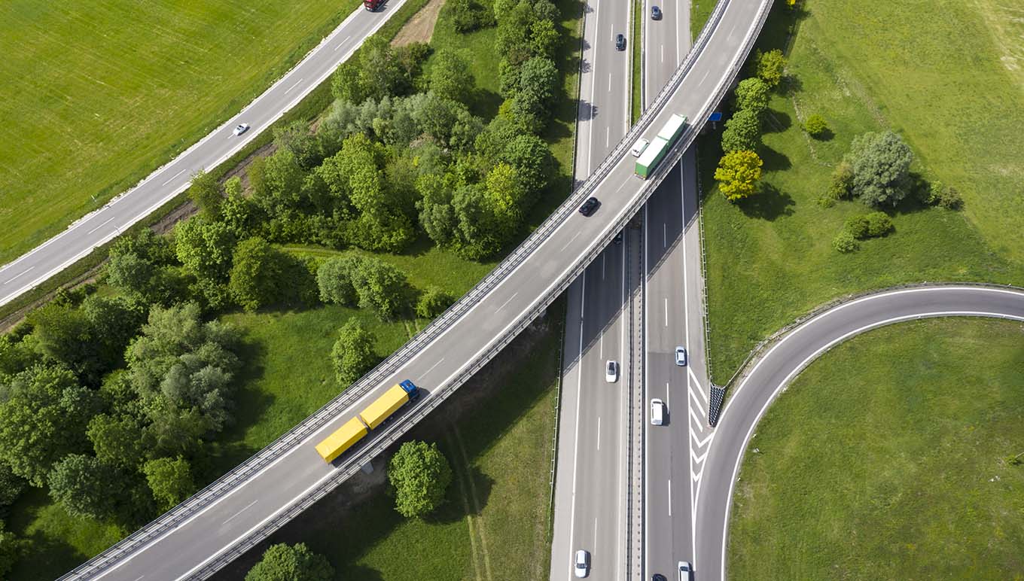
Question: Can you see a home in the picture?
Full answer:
No, the picture doesn't show any home.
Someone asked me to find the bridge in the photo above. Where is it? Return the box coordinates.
[61,0,775,581]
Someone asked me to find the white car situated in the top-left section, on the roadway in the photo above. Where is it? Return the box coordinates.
[231,123,249,137]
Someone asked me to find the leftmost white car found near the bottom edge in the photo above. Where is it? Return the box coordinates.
[574,548,588,579]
